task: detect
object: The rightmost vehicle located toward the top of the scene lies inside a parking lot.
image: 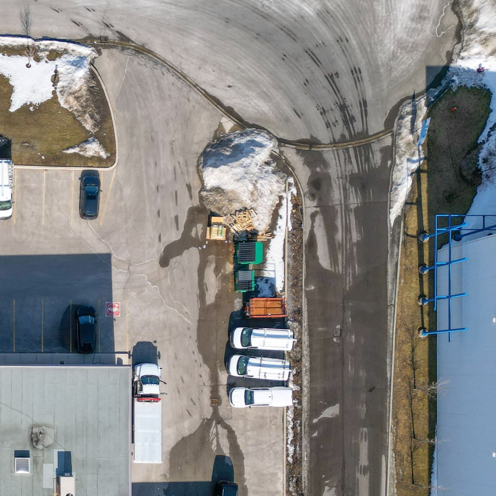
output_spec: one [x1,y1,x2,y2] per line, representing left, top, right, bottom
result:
[79,176,103,220]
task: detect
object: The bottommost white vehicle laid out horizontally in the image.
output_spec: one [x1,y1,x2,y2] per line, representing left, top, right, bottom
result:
[228,385,297,410]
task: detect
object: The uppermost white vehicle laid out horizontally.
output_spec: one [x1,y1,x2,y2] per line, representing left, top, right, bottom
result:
[227,326,301,351]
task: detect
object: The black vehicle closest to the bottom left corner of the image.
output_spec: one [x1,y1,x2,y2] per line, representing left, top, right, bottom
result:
[74,306,100,352]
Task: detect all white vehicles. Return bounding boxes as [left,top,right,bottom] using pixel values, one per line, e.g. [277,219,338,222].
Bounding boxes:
[224,353,298,380]
[228,385,297,410]
[227,326,301,351]
[0,159,16,220]
[129,355,165,464]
